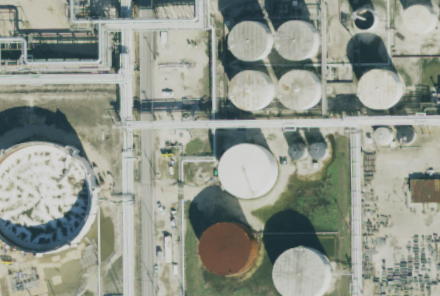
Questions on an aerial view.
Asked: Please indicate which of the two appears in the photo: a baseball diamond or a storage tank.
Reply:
storage tank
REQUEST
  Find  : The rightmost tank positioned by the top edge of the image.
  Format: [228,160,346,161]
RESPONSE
[402,2,438,38]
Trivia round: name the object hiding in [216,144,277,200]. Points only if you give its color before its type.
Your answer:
white storage tank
